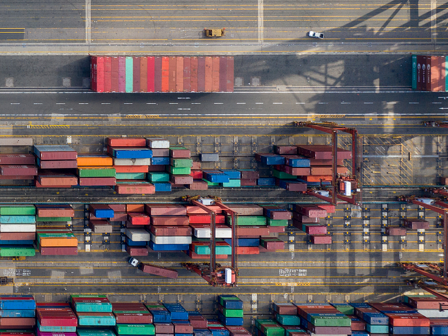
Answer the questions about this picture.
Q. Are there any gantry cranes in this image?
Yes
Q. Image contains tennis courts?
No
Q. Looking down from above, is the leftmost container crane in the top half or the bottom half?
bottom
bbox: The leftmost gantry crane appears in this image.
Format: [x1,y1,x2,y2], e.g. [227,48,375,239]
[181,197,241,288]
